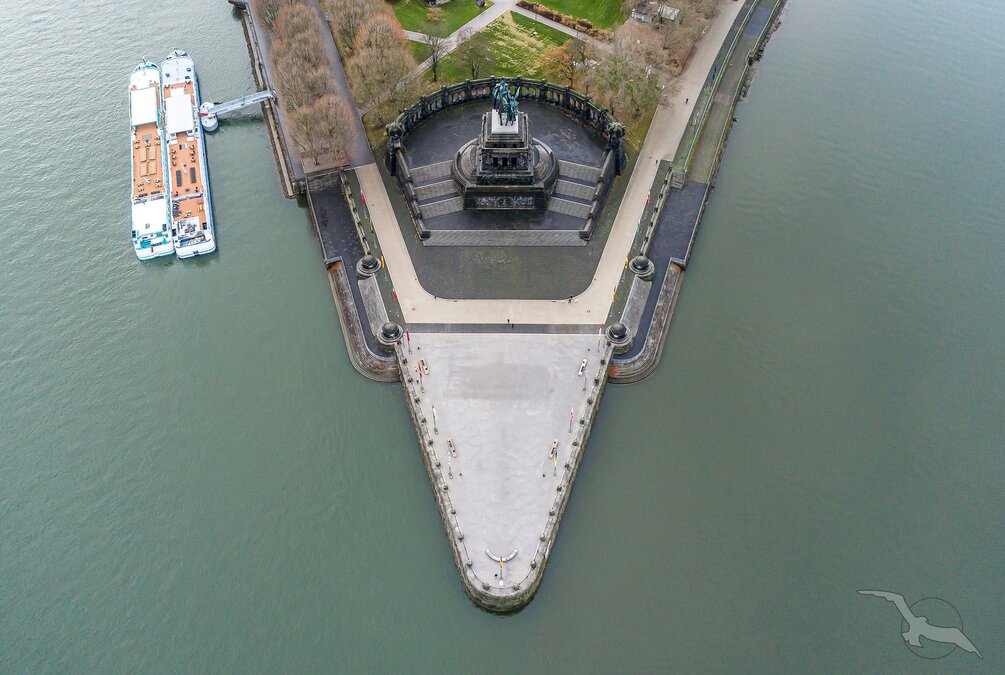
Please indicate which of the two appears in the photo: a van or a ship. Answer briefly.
ship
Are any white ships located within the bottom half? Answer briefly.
No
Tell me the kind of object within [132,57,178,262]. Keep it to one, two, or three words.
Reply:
ship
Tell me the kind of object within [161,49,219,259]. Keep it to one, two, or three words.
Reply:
ship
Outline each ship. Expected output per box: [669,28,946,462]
[132,57,178,262]
[161,49,219,259]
